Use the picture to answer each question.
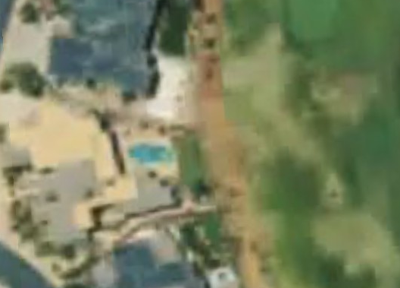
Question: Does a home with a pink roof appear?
No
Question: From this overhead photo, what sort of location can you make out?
golf course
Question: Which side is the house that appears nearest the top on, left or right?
left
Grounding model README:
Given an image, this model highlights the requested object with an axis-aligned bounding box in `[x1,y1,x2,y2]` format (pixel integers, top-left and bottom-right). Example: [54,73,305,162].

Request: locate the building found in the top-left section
[47,0,157,97]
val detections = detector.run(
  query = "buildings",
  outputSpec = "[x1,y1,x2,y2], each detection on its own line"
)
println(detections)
[47,0,157,97]
[5,100,178,241]
[112,238,207,288]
